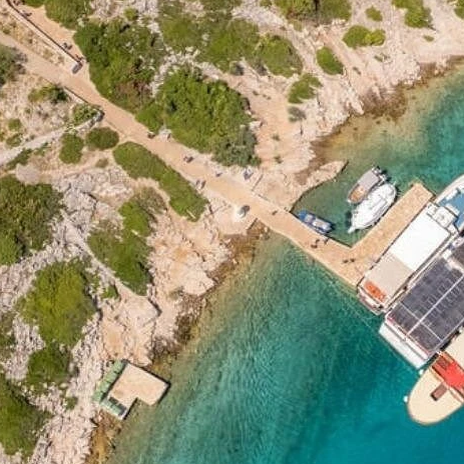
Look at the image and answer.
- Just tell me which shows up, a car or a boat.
boat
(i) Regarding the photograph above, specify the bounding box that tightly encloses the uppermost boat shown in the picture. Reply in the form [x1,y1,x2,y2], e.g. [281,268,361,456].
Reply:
[345,164,388,201]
